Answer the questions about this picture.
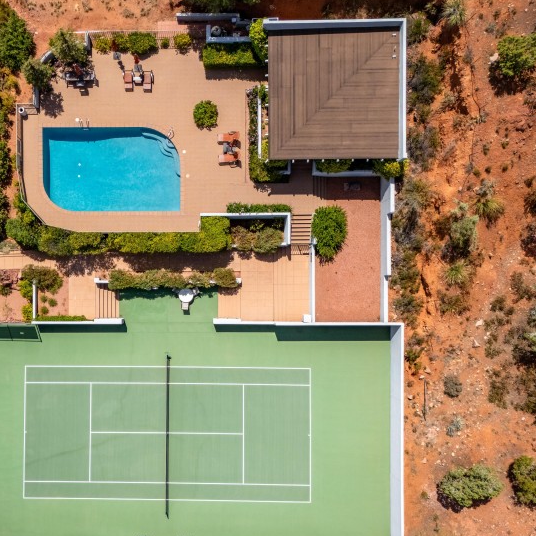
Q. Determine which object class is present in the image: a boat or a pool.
pool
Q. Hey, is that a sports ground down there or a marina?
sports ground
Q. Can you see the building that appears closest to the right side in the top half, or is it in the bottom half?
top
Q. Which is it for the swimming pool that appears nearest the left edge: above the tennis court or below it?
above it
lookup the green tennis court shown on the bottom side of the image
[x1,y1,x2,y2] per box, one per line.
[0,288,388,536]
